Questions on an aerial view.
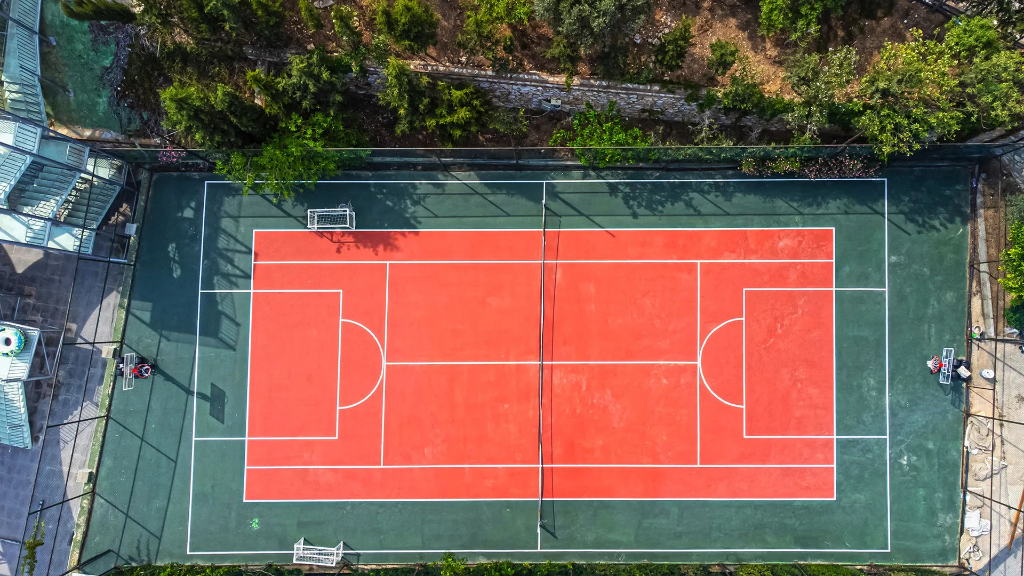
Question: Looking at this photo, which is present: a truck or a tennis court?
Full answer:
Of the two, only a tennis court appears.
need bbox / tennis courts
[67,166,975,567]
